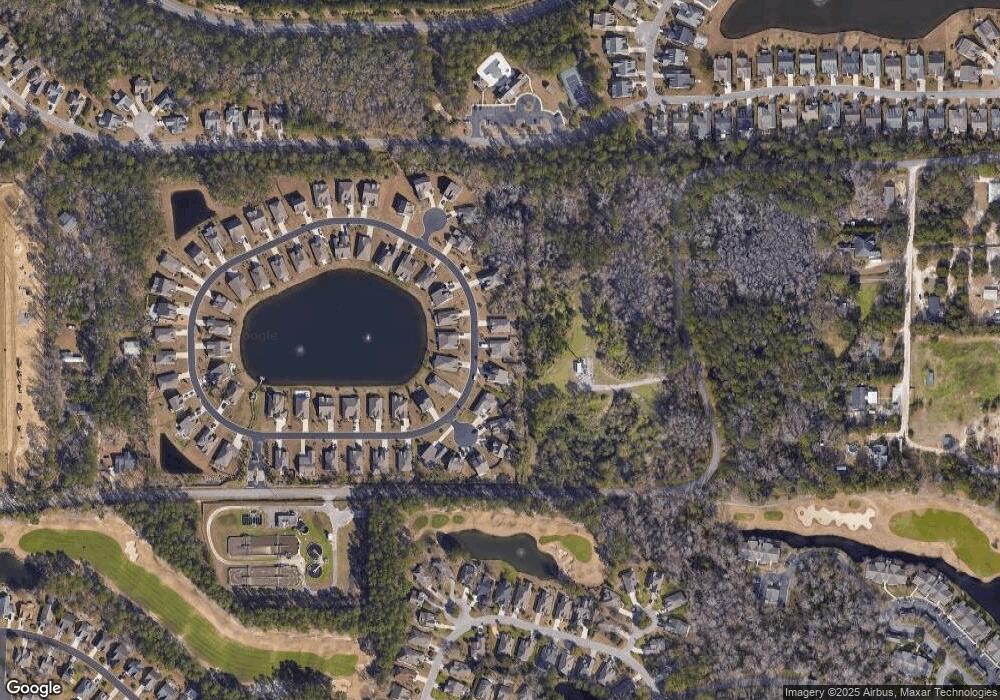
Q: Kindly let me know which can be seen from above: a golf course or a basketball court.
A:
golf course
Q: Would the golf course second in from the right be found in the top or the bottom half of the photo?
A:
bottom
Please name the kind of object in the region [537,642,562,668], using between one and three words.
house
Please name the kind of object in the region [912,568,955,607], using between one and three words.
building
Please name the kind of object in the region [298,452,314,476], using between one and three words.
house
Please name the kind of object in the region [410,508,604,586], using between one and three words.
golf course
